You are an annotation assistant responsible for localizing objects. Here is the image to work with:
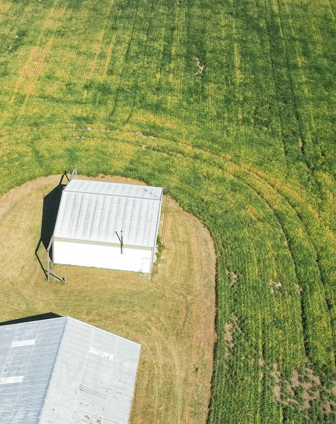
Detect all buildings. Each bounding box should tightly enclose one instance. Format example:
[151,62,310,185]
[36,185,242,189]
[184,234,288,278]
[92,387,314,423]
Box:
[0,317,140,424]
[52,179,165,274]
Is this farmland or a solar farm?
farmland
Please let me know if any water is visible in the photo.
No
